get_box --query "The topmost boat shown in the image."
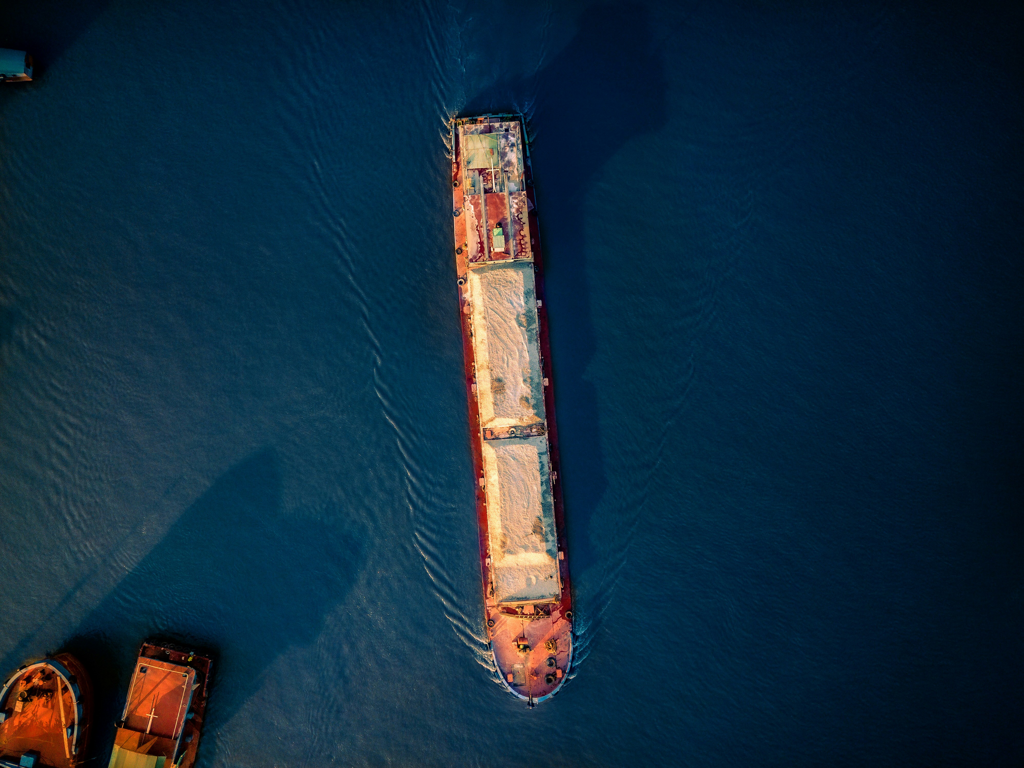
[0,51,35,81]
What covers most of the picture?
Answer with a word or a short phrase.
water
